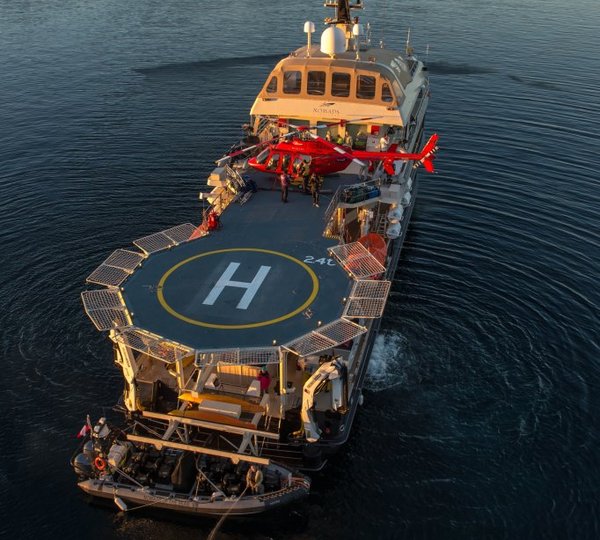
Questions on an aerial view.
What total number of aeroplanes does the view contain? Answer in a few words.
0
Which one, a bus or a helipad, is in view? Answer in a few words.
helipad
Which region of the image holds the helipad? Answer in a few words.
center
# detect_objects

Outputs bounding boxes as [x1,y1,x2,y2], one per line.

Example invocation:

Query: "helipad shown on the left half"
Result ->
[80,166,394,411]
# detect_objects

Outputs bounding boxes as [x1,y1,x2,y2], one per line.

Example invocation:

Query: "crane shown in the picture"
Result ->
[284,347,351,436]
